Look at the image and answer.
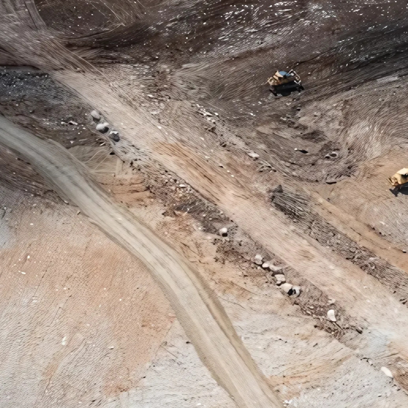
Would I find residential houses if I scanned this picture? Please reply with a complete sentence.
No, there appears to be no residential house in this shot.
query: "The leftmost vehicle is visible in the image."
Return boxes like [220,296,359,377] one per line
[269,71,303,94]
